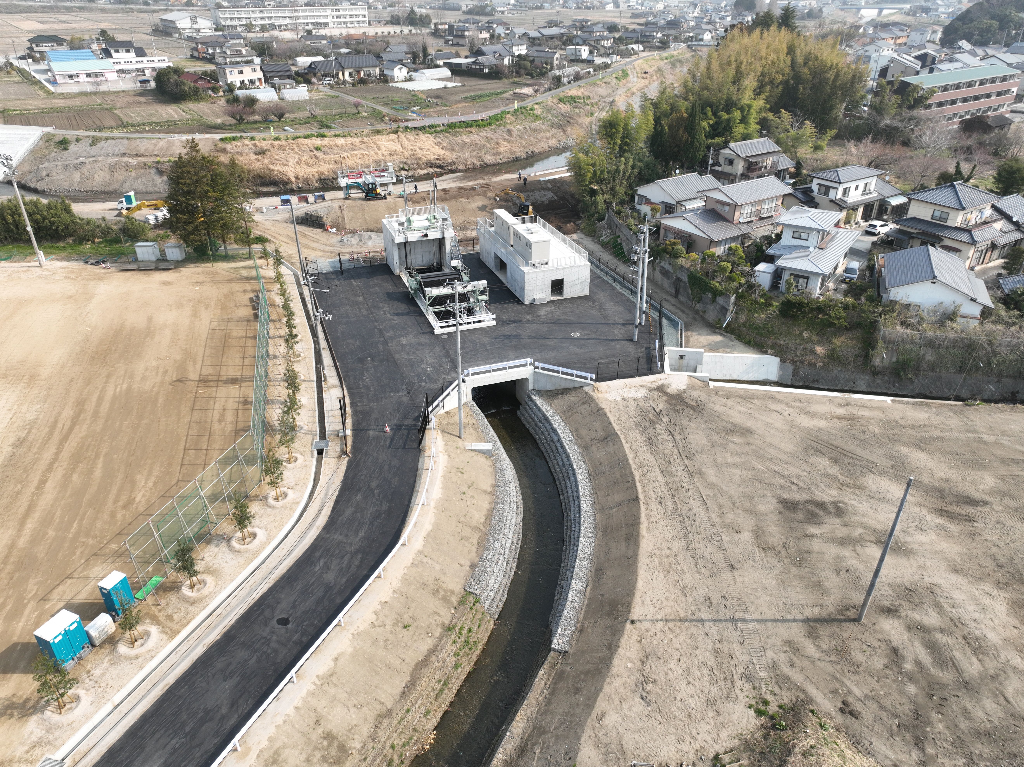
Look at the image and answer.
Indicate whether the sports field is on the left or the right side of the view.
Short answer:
left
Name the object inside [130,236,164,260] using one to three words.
shed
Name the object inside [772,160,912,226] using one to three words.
house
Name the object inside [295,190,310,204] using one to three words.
vehicle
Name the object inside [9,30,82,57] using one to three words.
house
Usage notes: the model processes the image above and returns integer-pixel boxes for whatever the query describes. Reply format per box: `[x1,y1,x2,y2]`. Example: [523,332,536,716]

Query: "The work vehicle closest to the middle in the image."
[476,183,542,222]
